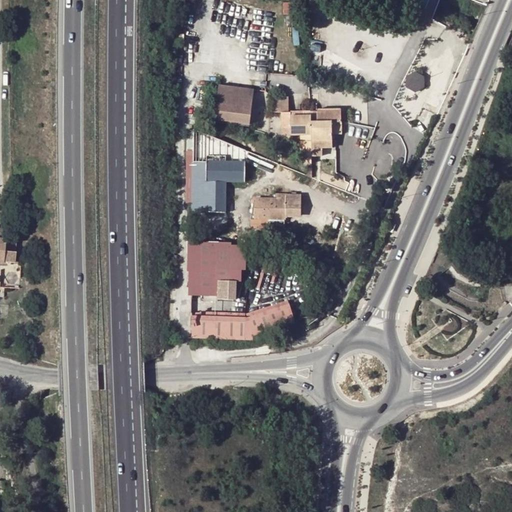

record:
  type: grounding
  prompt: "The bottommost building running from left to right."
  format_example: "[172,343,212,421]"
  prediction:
[191,299,292,340]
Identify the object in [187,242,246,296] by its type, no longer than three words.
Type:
hangar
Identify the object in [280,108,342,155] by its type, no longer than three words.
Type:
house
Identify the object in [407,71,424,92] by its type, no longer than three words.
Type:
gazebo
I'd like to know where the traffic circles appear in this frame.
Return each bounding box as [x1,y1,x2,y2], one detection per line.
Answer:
[316,332,408,424]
